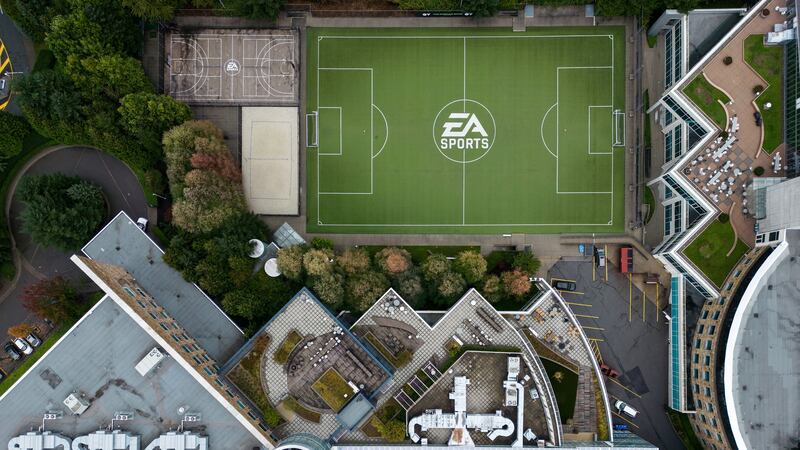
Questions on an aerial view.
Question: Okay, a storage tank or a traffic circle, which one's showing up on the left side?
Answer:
traffic circle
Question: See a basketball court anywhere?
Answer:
Yes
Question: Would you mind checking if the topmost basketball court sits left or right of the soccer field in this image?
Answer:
on the left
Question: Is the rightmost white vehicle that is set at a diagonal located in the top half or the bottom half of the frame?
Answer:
bottom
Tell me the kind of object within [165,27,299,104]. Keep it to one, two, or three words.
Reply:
basketball court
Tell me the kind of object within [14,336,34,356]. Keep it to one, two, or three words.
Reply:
car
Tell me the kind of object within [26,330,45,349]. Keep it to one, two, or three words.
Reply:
car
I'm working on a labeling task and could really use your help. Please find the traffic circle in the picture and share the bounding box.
[6,145,148,262]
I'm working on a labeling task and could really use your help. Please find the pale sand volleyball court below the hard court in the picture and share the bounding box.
[241,106,298,215]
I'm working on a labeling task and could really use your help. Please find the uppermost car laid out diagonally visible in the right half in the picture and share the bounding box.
[600,362,620,379]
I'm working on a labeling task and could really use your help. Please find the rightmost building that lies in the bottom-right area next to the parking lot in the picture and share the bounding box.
[688,230,800,450]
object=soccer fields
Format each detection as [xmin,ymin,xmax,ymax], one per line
[307,27,625,234]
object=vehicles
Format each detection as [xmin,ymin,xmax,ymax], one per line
[26,330,45,349]
[14,336,34,356]
[613,398,638,418]
[135,214,151,232]
[610,419,628,429]
[597,247,606,268]
[555,280,577,291]
[4,341,23,362]
[600,362,620,379]
[0,370,9,385]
